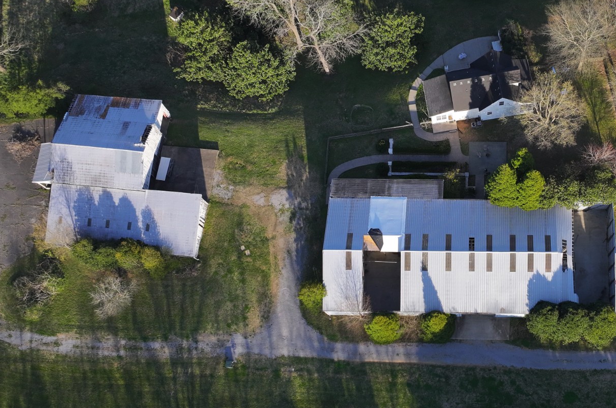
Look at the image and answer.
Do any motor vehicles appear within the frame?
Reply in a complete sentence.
No, I can't see a single motor vehicle in this photo.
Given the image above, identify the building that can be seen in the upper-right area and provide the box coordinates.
[422,47,536,136]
